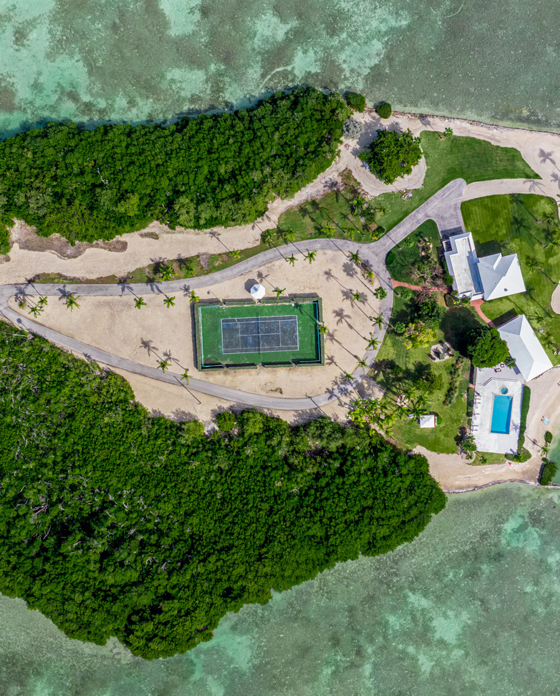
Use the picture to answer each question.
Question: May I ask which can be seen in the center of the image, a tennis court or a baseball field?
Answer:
tennis court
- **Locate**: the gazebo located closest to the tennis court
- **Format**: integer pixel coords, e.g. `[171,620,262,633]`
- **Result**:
[251,285,265,299]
